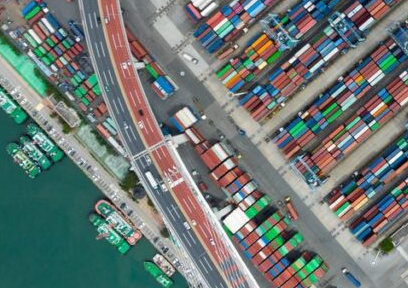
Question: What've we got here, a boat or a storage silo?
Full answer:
I can see a boat in this picture.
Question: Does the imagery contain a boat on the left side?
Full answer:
Yes, a boat is visible on the left side.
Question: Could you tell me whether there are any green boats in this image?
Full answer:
Yes, you can see a green boat in this photo.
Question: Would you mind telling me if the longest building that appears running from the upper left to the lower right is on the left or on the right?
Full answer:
The longest building that appears running from the upper left to the lower right is on the left side of the image.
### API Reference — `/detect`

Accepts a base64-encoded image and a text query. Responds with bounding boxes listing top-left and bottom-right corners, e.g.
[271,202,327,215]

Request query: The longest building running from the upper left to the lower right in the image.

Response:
[51,95,83,126]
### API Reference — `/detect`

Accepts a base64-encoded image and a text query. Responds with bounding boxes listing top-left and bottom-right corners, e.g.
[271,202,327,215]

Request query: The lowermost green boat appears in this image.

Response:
[144,262,174,288]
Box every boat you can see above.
[0,88,25,125]
[94,198,141,247]
[144,262,174,288]
[25,121,64,162]
[90,215,127,253]
[6,143,41,179]
[18,135,53,171]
